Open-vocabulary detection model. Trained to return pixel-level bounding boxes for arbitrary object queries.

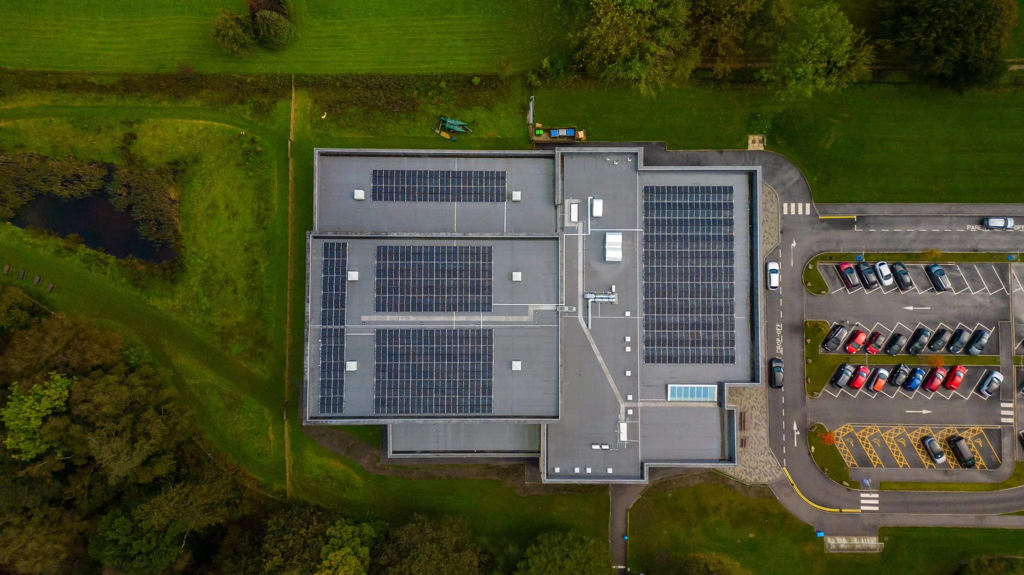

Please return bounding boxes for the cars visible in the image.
[874,261,894,287]
[944,365,965,391]
[845,330,868,354]
[924,367,945,393]
[823,324,848,353]
[966,328,992,357]
[903,367,924,393]
[928,327,951,353]
[769,358,785,389]
[980,370,1002,398]
[833,363,854,389]
[948,437,972,466]
[867,368,889,394]
[982,216,1013,229]
[947,328,971,354]
[857,263,879,289]
[766,262,779,290]
[865,331,887,355]
[838,262,860,288]
[907,328,931,356]
[885,332,908,357]
[921,436,943,464]
[849,365,870,390]
[928,263,952,292]
[892,263,914,290]
[888,363,909,388]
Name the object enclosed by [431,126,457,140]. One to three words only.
boat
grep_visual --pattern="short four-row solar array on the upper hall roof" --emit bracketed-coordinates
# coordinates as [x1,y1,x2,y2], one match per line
[371,169,507,202]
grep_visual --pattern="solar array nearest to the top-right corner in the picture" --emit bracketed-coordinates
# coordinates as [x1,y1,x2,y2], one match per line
[643,185,736,364]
